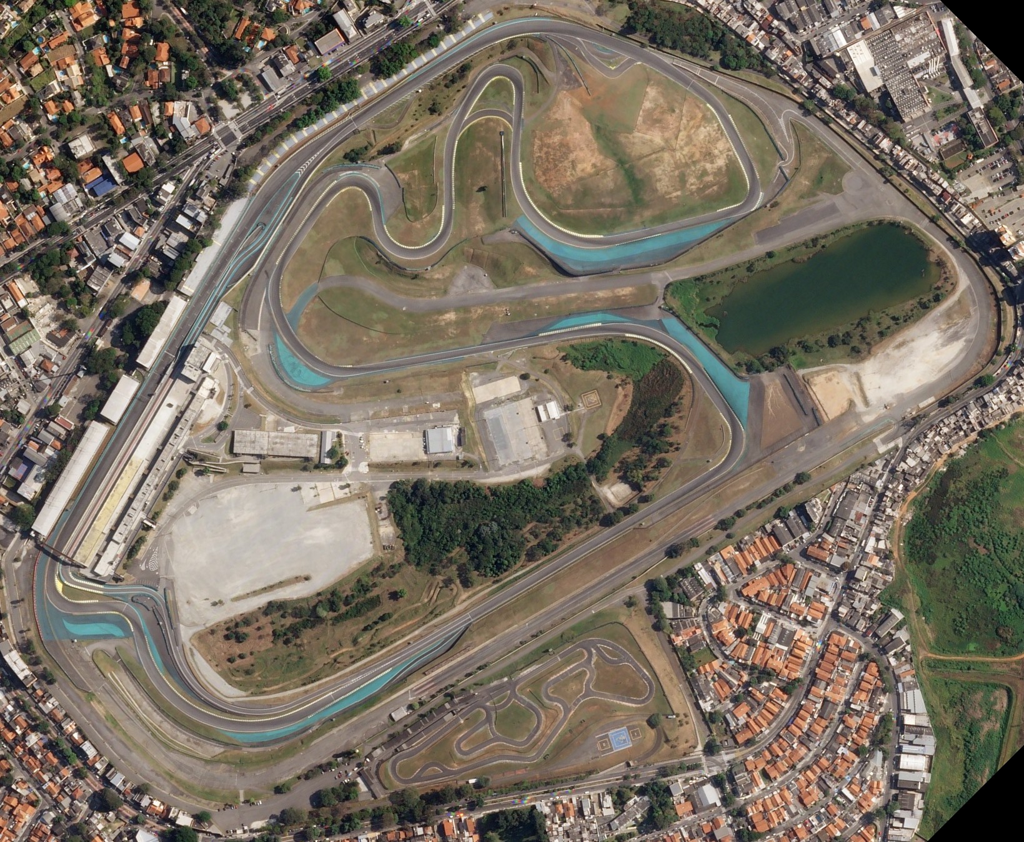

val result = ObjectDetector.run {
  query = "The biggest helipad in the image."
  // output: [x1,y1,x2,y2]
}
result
[595,727,632,756]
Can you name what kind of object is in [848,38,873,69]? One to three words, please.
house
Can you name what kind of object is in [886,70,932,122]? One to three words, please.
building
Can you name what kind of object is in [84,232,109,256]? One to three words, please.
house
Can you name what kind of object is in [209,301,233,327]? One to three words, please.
shed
